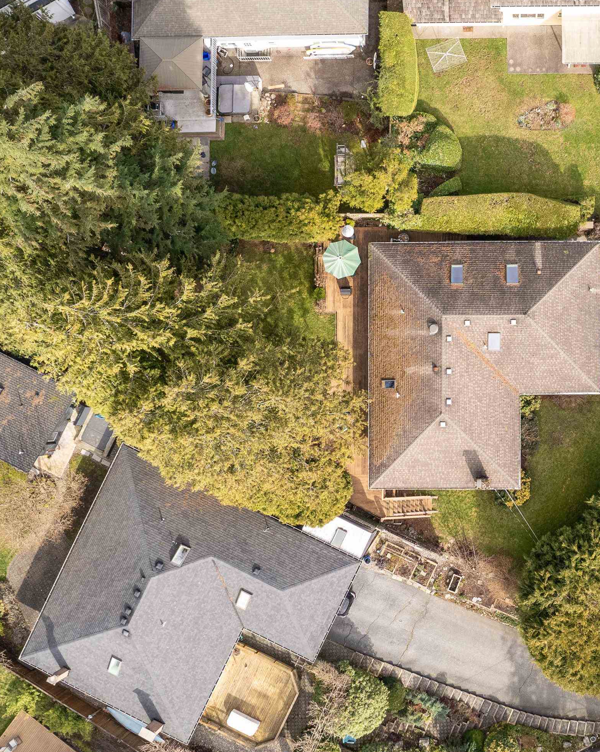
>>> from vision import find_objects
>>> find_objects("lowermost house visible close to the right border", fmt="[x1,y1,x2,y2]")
[368,241,600,490]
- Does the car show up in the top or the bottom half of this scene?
bottom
